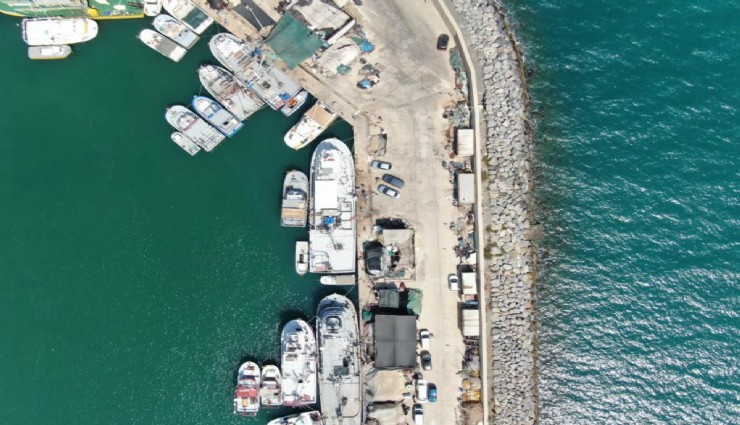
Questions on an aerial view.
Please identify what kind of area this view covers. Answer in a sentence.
It's a port.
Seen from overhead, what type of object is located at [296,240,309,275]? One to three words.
boat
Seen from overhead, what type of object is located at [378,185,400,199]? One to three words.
vehicle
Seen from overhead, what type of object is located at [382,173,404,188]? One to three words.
car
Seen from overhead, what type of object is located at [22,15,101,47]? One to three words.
vessel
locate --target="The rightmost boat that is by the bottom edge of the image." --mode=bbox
[314,293,363,425]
